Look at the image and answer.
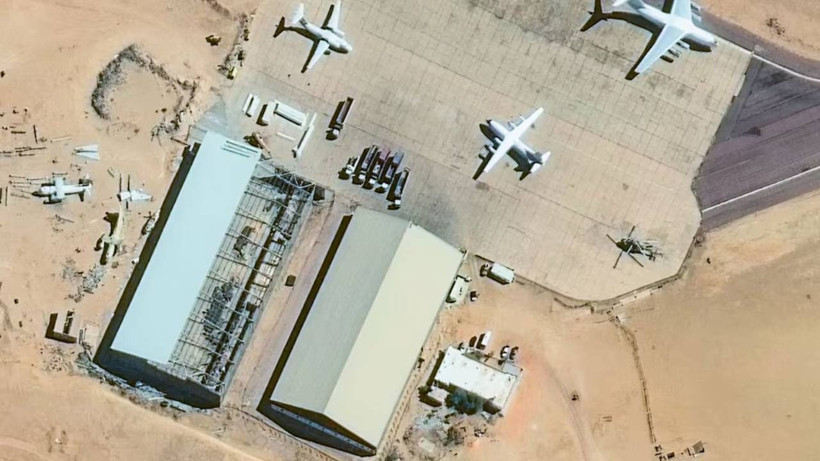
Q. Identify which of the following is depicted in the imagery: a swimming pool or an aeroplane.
aeroplane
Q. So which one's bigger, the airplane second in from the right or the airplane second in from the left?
the airplane second in from the right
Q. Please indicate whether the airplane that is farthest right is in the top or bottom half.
top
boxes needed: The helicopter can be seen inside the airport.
[617,219,664,259]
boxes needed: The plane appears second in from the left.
[100,198,127,259]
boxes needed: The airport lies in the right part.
[186,0,820,302]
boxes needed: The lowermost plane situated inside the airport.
[480,103,549,174]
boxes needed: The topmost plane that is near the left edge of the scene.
[41,174,92,210]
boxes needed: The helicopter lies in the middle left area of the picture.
[144,207,160,236]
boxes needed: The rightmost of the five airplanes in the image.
[612,0,717,70]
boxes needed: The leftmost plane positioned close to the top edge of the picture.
[292,2,352,66]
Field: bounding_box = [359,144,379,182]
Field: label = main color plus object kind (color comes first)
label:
gray vehicle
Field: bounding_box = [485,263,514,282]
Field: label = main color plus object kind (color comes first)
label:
white vehicle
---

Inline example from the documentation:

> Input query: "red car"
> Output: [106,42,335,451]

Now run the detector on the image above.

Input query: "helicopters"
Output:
[617,219,664,259]
[144,207,160,236]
